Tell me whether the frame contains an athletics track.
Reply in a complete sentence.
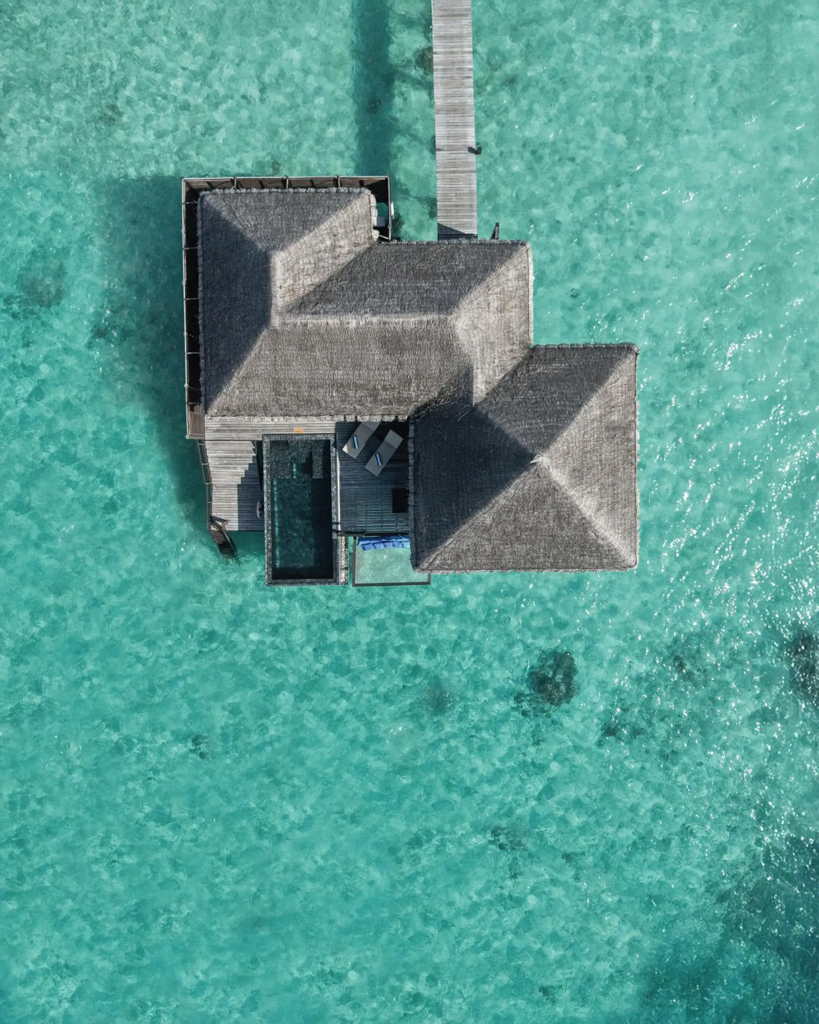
No, there's no athletics track here.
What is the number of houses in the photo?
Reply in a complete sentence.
In total, 1 house can be seen.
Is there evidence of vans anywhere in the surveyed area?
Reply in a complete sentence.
No, there isn't any van down there.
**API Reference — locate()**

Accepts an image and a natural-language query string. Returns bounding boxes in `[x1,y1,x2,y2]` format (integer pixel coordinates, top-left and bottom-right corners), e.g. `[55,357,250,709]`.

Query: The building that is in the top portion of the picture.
[193,186,642,573]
